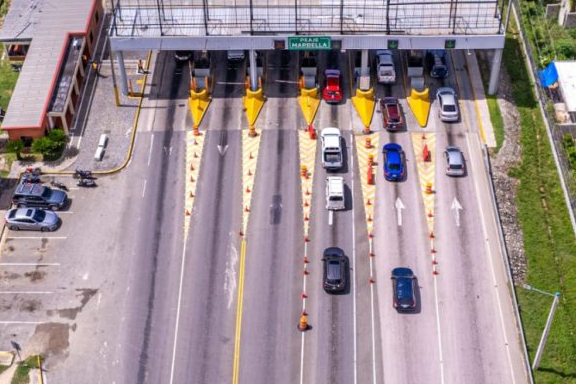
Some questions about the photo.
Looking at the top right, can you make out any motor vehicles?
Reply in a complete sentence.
Yes, a motor vehicle is visible at the top right.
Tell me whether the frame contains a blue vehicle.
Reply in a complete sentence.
Yes, you can see a blue vehicle in this photo.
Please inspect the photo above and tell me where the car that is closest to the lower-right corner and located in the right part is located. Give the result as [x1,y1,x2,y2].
[389,268,418,315]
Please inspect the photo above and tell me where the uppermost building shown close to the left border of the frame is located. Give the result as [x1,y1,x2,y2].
[0,0,101,155]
